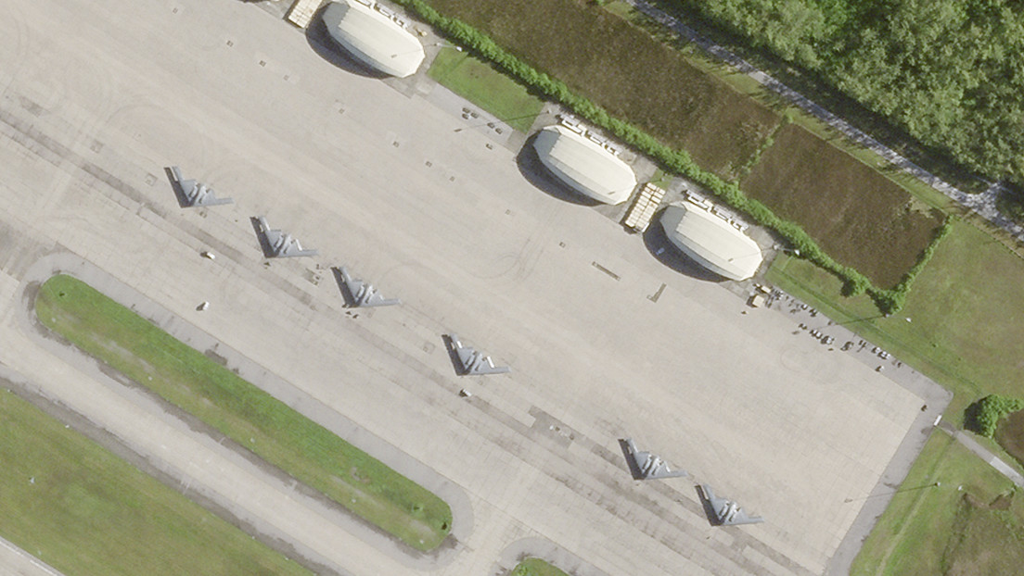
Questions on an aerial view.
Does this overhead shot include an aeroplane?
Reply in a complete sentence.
Yes, you can see an aeroplane in this photo.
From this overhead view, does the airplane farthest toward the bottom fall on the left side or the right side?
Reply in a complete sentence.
The airplane farthest toward the bottom sits on the right side.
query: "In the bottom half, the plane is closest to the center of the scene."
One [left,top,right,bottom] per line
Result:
[451,337,512,375]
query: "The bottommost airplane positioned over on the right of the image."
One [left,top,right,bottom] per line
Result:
[705,487,765,525]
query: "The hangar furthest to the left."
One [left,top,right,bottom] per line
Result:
[322,0,426,76]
